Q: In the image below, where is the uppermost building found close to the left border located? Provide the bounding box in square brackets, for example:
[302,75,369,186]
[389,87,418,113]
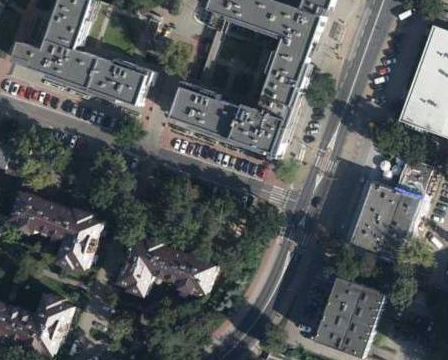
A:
[11,0,154,113]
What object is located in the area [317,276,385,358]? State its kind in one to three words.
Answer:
building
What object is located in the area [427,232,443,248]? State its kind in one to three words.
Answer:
vehicle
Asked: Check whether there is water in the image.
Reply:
No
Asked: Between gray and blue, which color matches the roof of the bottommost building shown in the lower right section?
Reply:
gray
